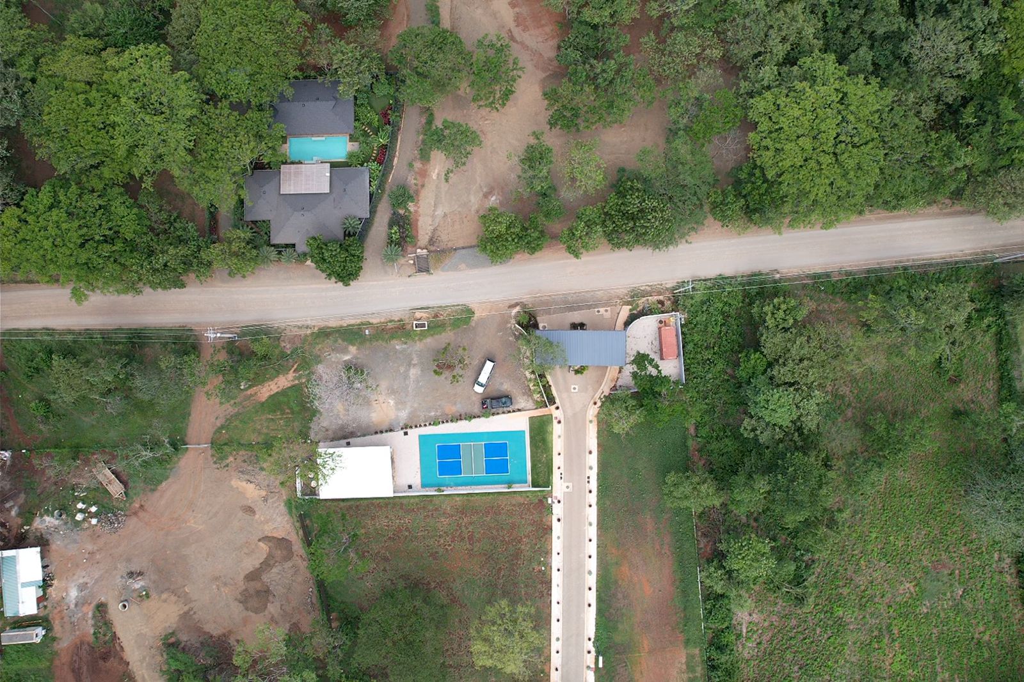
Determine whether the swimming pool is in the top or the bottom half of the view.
top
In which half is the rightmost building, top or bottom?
bottom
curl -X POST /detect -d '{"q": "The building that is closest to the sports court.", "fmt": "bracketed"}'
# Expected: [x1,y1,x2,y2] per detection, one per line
[318,445,395,500]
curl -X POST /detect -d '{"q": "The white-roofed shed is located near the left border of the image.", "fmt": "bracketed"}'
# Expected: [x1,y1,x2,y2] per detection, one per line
[0,545,51,617]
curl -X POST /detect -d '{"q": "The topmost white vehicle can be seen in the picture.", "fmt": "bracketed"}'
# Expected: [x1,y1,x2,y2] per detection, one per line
[475,359,495,393]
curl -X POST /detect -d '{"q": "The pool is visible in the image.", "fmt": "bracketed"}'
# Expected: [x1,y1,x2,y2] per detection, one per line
[287,134,349,162]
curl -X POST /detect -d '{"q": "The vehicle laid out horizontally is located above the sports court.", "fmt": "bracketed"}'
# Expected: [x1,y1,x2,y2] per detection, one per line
[481,397,512,410]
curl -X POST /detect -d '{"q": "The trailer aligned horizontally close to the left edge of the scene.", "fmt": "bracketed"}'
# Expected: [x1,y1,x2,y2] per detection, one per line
[1,627,49,645]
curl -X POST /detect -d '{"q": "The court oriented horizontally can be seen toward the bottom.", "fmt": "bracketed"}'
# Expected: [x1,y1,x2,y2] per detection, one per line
[419,430,529,489]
